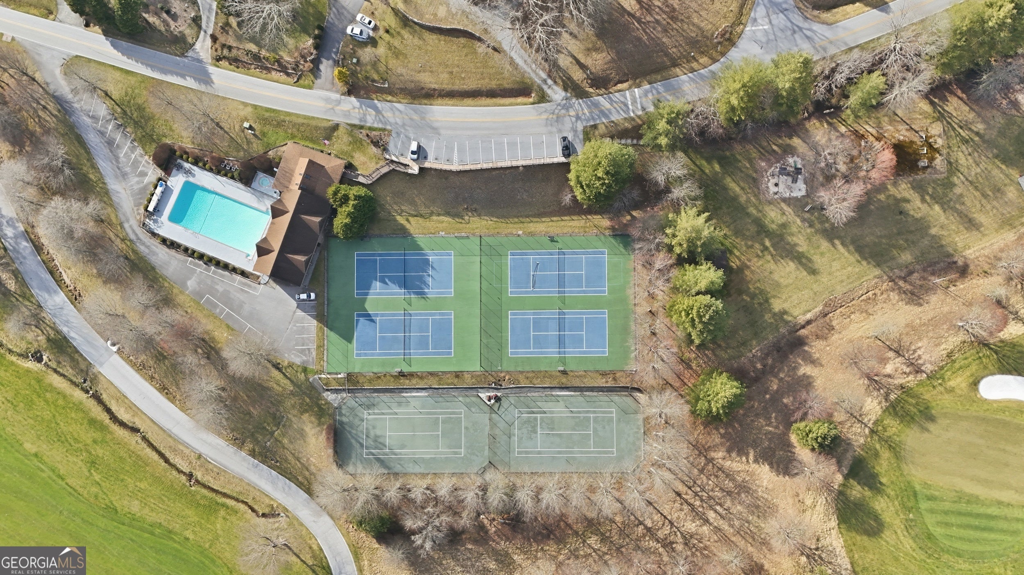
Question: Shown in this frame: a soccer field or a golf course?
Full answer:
Visible in the photo is a golf course.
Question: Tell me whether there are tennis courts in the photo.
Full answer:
Yes, the image includes a tennis court.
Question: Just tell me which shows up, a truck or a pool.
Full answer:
Visible in the photo is a pool.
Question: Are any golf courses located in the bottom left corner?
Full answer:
Yes, you'll find a golf course in the bottom left corner.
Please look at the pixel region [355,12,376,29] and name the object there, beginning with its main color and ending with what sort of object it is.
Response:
white car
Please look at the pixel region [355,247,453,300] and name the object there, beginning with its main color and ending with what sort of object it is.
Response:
blue tennis court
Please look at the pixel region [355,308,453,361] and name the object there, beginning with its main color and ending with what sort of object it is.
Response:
blue tennis court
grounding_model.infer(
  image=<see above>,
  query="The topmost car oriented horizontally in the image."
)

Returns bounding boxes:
[346,27,369,39]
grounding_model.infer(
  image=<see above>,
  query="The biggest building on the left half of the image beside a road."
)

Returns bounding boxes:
[254,142,346,285]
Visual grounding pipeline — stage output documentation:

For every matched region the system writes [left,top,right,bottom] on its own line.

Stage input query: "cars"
[346,27,369,39]
[560,135,570,157]
[409,139,420,161]
[295,291,316,300]
[355,12,376,29]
